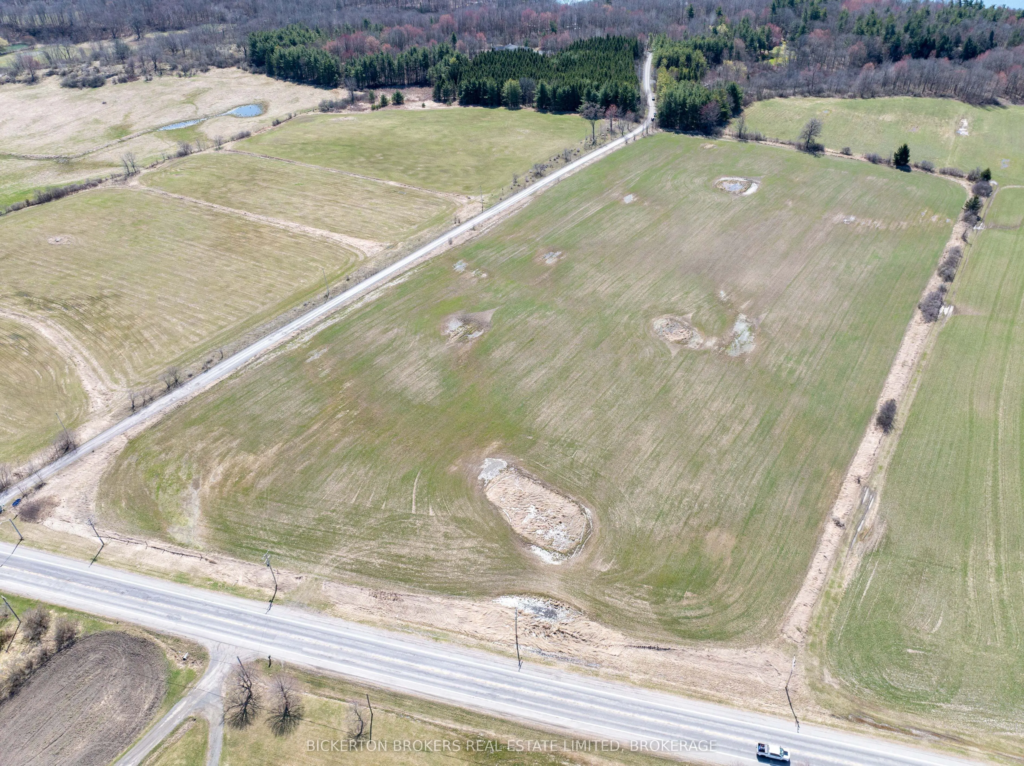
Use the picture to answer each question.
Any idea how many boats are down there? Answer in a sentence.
The picture shows no boats.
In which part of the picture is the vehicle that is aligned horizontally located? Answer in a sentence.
The vehicle that is aligned horizontally appears toward the bottom right of the photo.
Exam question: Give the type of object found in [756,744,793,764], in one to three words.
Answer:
vehicle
